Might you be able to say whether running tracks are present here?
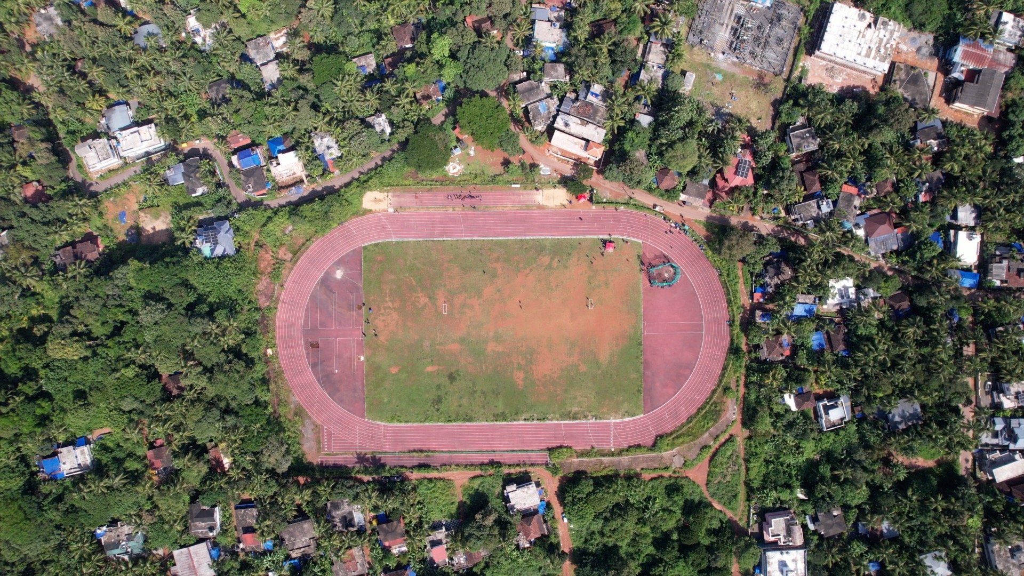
Yes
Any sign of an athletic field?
Yes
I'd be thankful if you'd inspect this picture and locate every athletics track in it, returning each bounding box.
[276,209,730,451]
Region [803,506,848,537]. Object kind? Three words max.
house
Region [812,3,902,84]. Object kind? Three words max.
building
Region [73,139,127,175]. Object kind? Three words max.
house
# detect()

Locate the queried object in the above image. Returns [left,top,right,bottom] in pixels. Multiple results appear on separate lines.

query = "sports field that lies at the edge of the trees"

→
[363,237,643,423]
